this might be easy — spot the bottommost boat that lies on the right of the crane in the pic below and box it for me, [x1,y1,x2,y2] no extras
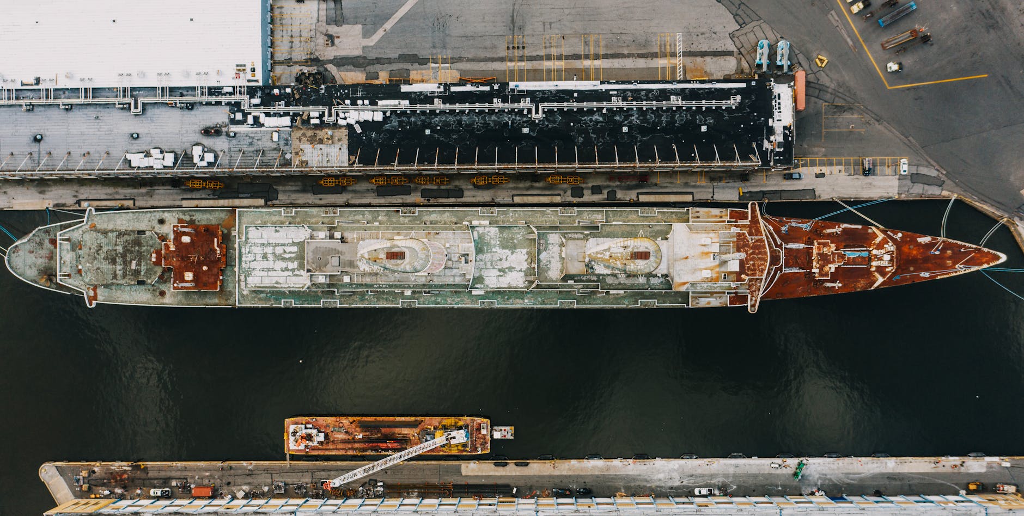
[492,426,514,439]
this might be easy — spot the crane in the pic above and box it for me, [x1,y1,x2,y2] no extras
[323,418,476,490]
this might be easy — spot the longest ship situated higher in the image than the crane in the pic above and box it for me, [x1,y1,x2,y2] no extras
[5,201,1007,314]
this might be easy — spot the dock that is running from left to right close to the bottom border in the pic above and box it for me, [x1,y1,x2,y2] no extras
[38,454,1024,507]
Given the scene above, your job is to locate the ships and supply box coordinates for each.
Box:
[284,414,490,454]
[5,201,1007,314]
